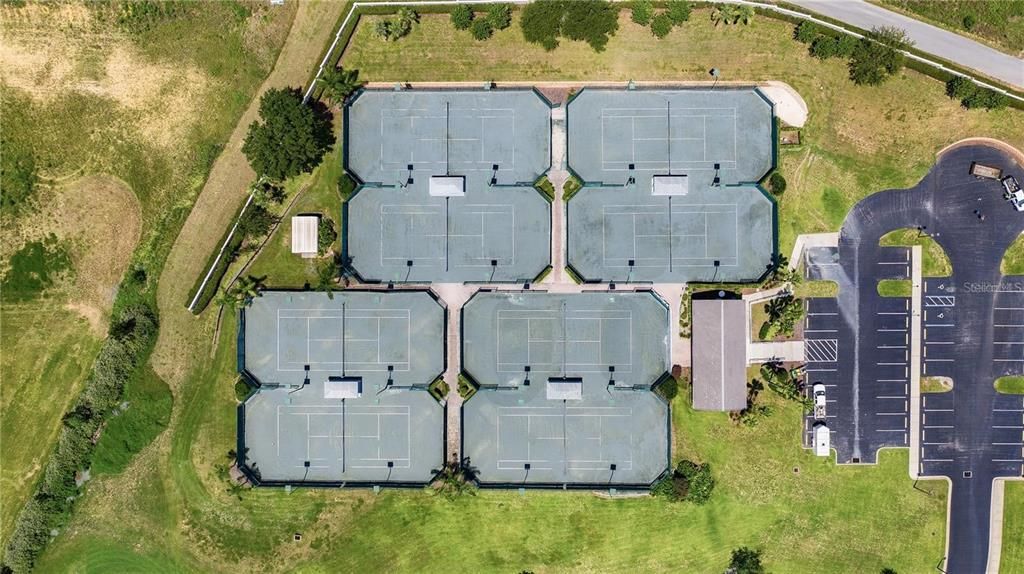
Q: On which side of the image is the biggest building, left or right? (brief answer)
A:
right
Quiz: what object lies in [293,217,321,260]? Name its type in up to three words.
shed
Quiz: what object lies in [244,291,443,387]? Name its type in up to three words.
tennis court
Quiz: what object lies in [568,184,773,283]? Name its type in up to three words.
tennis court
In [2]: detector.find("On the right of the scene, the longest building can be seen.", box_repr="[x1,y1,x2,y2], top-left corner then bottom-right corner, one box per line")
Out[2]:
[690,300,747,412]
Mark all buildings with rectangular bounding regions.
[293,217,321,260]
[690,300,747,412]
